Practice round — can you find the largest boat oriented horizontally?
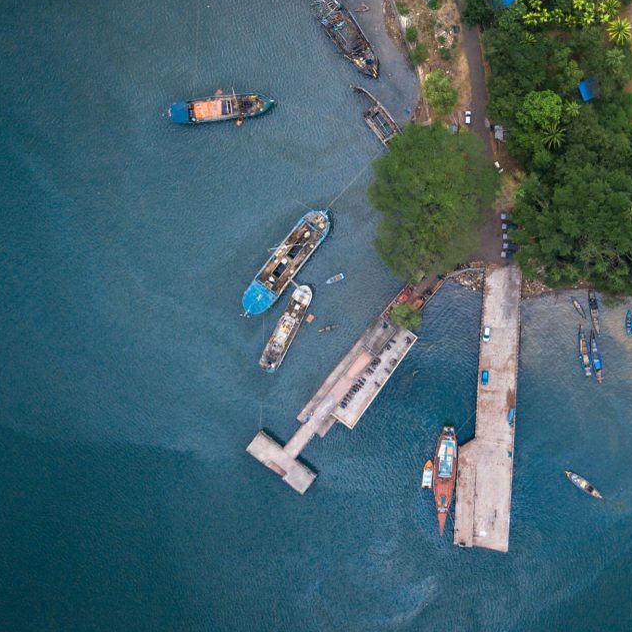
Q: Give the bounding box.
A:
[168,86,276,122]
